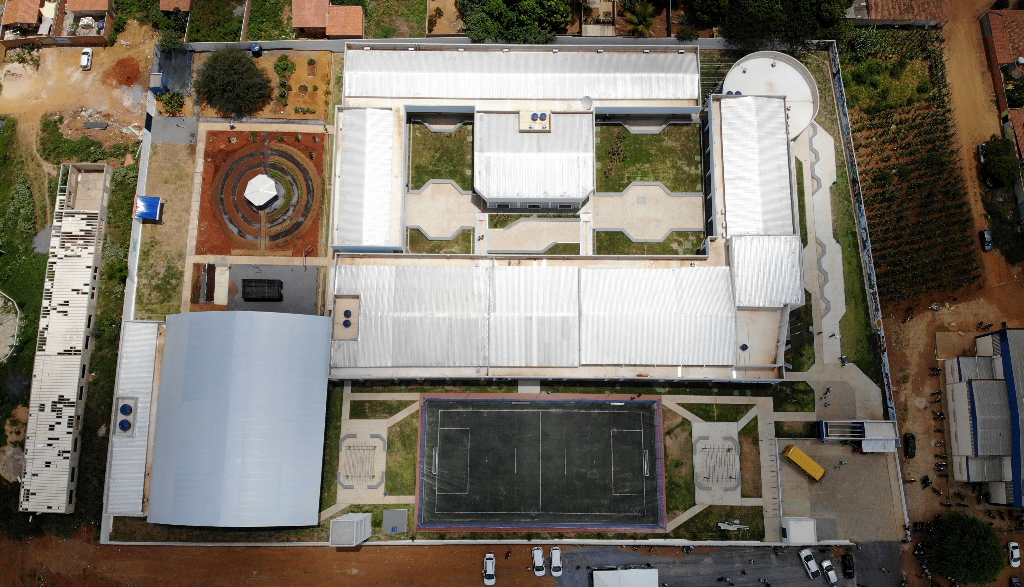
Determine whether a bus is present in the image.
Yes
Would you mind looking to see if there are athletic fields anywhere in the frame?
Yes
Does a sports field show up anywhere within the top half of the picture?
No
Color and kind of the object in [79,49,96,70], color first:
white car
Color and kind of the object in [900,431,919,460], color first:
black car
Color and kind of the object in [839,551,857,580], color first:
black car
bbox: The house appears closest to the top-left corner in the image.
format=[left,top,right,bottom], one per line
[2,0,48,32]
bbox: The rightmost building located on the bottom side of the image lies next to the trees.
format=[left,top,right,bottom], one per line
[934,328,1024,508]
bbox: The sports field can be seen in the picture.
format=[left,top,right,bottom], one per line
[424,403,659,525]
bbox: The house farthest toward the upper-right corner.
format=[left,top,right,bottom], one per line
[981,12,1024,70]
